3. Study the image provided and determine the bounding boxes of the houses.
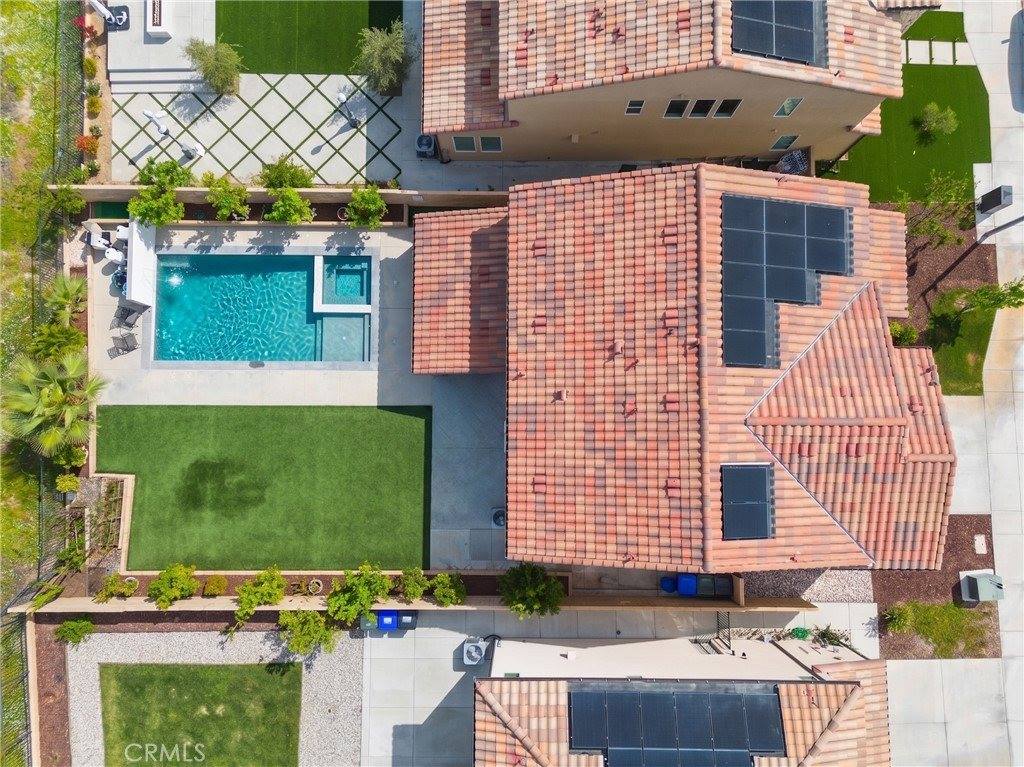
[473,640,894,767]
[419,0,946,161]
[410,163,963,571]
